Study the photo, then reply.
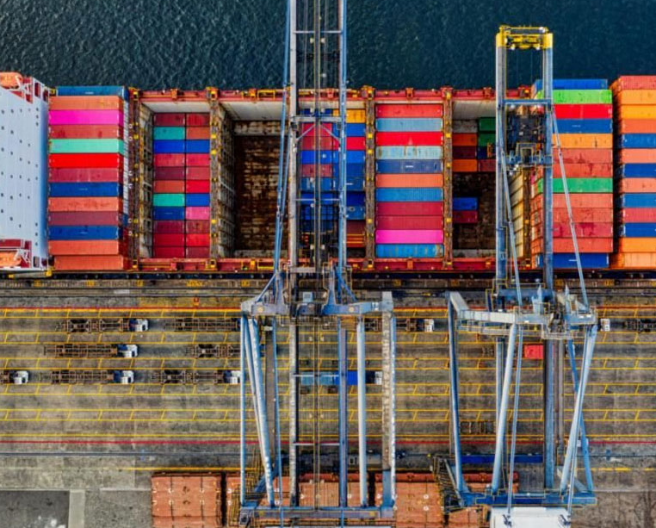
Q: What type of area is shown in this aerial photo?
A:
port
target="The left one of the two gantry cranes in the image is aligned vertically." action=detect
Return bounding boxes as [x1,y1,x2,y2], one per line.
[221,0,414,528]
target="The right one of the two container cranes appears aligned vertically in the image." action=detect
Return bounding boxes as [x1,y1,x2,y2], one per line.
[426,24,607,528]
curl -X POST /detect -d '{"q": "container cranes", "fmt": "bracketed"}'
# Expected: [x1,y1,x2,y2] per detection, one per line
[221,0,414,528]
[426,24,607,528]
